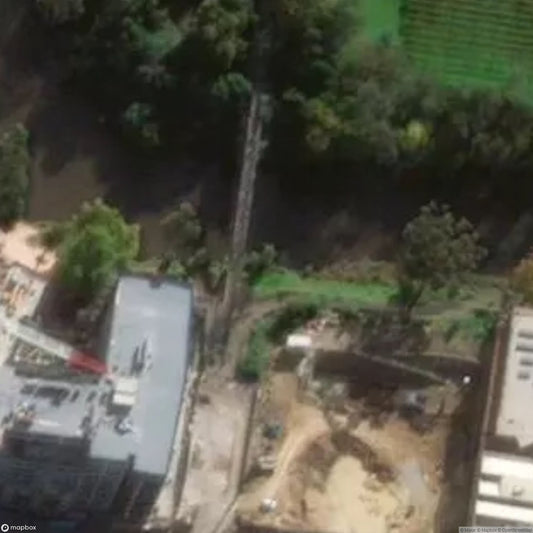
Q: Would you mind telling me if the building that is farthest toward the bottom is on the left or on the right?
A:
right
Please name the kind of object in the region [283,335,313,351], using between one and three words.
building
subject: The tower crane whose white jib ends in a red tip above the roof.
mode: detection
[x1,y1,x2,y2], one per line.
[0,315,111,385]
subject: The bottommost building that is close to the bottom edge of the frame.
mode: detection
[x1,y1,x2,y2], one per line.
[465,448,533,533]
